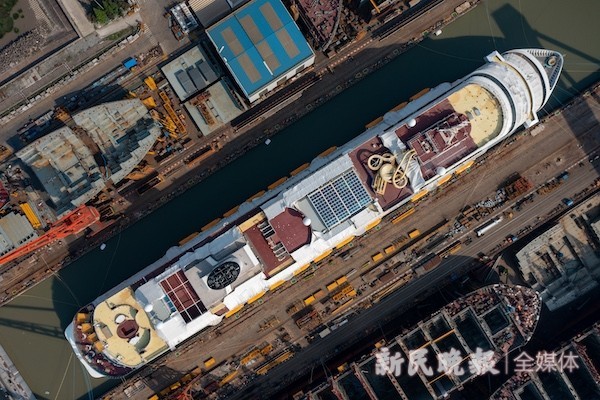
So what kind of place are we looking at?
port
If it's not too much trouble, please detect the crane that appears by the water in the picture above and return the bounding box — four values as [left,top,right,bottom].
[0,199,117,264]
